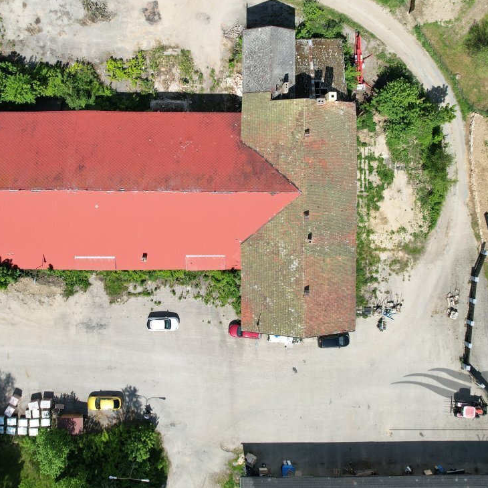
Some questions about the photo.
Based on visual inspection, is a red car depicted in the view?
Yes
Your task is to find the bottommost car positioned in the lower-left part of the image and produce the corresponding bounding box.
[88,394,121,411]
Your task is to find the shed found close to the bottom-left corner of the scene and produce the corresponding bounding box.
[57,413,85,434]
